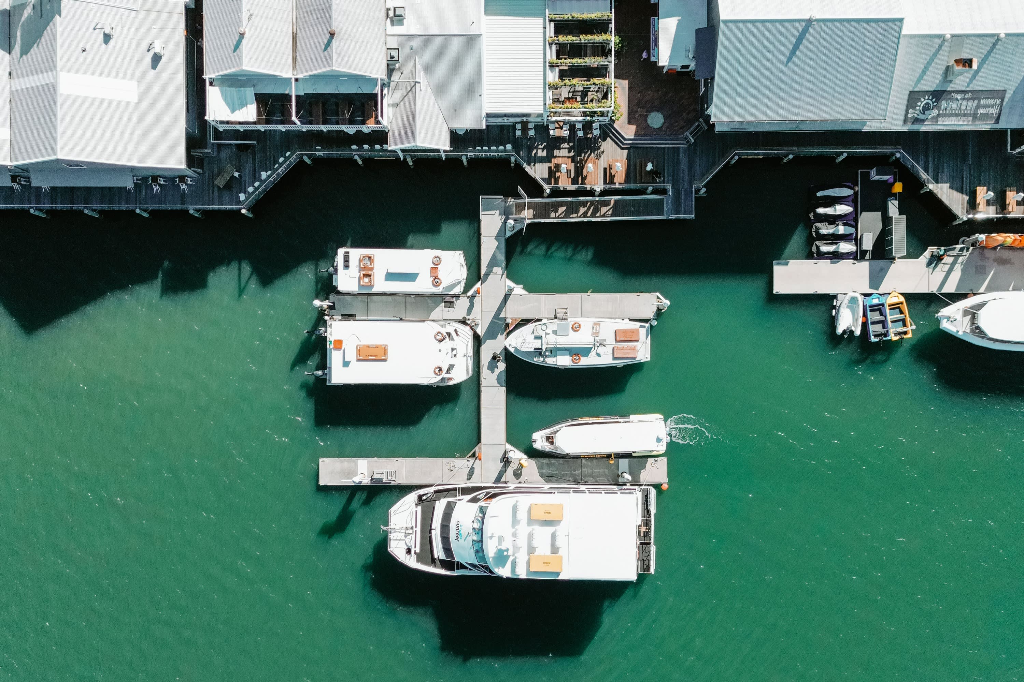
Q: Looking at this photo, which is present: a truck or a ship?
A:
ship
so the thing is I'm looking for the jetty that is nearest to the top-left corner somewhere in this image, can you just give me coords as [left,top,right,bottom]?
[323,283,480,335]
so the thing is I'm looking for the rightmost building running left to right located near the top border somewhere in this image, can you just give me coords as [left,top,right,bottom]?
[699,0,1024,132]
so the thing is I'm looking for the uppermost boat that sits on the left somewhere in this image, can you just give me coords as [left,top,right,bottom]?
[318,248,467,295]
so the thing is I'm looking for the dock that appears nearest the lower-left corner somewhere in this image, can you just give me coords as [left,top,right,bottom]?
[319,445,480,484]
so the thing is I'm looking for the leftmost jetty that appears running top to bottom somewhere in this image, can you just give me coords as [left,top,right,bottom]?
[480,196,524,484]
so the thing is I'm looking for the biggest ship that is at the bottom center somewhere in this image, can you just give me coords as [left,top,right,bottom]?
[381,482,656,581]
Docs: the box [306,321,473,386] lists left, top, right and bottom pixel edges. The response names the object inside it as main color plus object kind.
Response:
white boat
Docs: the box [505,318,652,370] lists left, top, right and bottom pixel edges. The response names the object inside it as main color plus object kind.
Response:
white boat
